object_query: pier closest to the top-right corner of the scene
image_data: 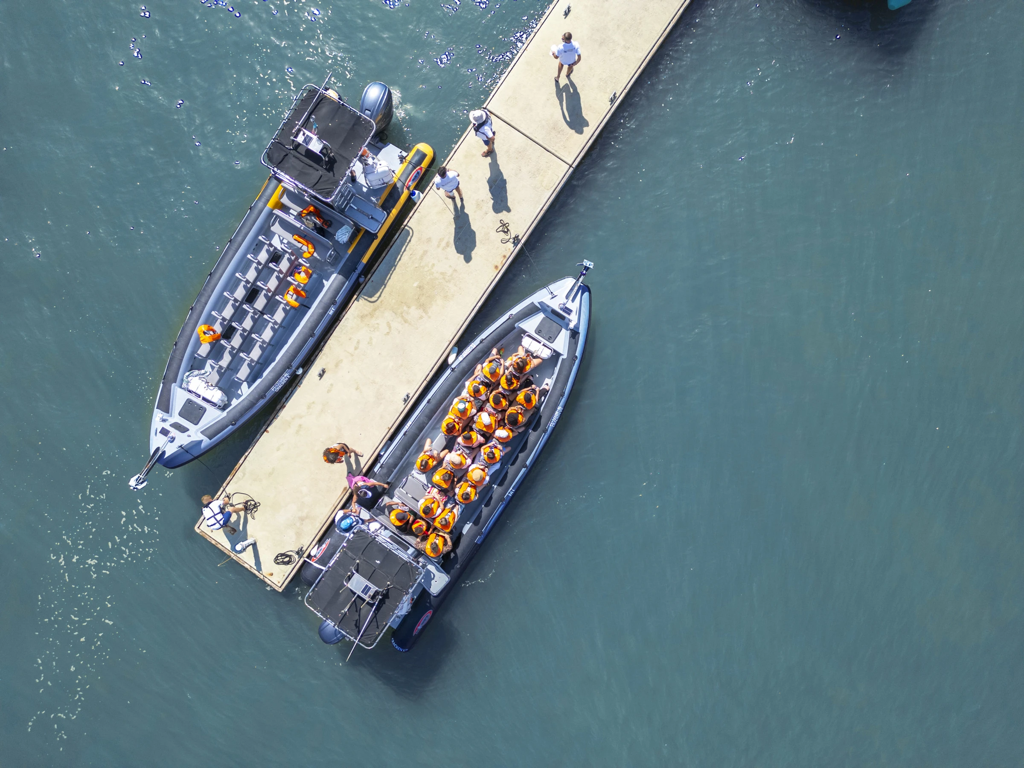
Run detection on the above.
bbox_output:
[483,0,689,171]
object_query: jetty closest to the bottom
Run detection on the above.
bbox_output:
[193,107,572,590]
